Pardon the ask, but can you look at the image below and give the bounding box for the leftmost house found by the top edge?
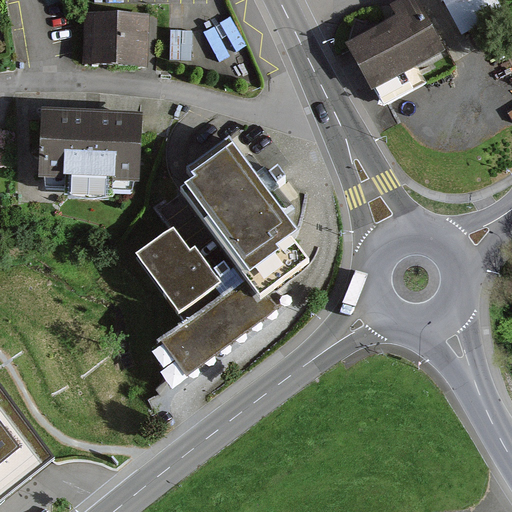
[82,10,150,68]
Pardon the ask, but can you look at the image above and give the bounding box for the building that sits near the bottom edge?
[0,390,56,507]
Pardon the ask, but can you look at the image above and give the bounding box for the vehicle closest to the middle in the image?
[200,240,218,258]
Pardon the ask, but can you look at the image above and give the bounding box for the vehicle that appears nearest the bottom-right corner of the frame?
[339,270,368,317]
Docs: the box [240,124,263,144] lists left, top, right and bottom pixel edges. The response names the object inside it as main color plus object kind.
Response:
black car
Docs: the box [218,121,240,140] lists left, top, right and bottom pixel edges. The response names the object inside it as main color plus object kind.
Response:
black car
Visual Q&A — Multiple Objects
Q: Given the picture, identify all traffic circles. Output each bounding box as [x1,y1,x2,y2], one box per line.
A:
[336,204,488,364]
